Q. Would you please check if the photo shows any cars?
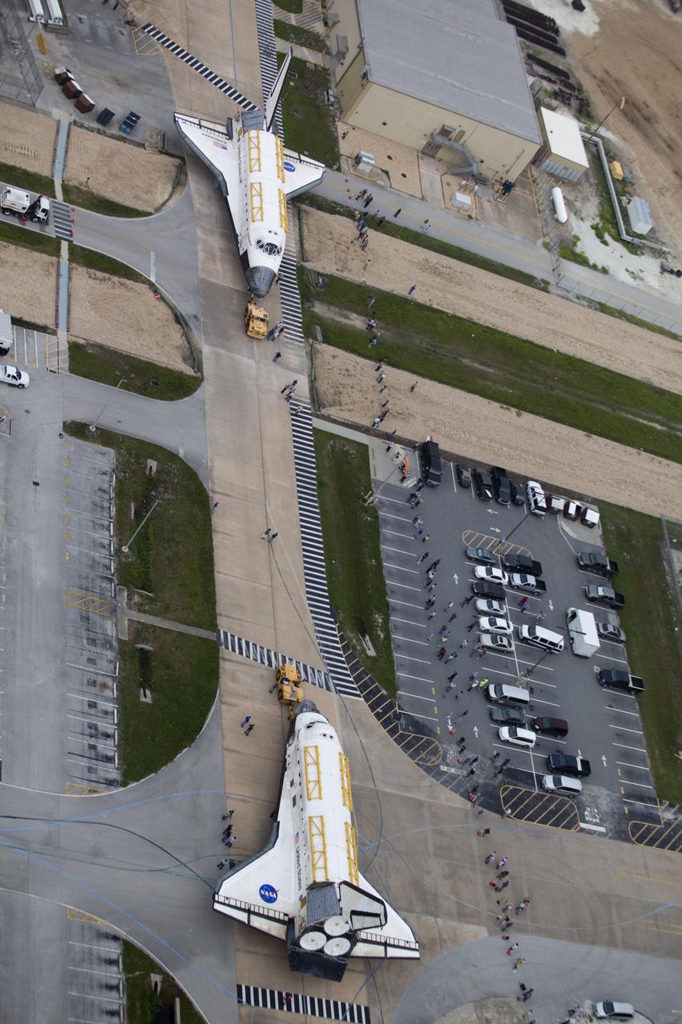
Yes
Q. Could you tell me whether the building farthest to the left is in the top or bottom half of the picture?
top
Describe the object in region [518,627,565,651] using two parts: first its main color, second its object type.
white vehicle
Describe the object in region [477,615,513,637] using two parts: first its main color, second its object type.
white car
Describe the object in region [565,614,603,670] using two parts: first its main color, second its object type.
white truck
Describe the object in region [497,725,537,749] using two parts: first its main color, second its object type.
white car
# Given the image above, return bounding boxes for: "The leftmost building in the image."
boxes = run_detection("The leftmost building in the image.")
[318,0,546,182]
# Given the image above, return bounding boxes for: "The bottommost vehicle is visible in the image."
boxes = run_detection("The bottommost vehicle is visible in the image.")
[593,998,635,1023]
